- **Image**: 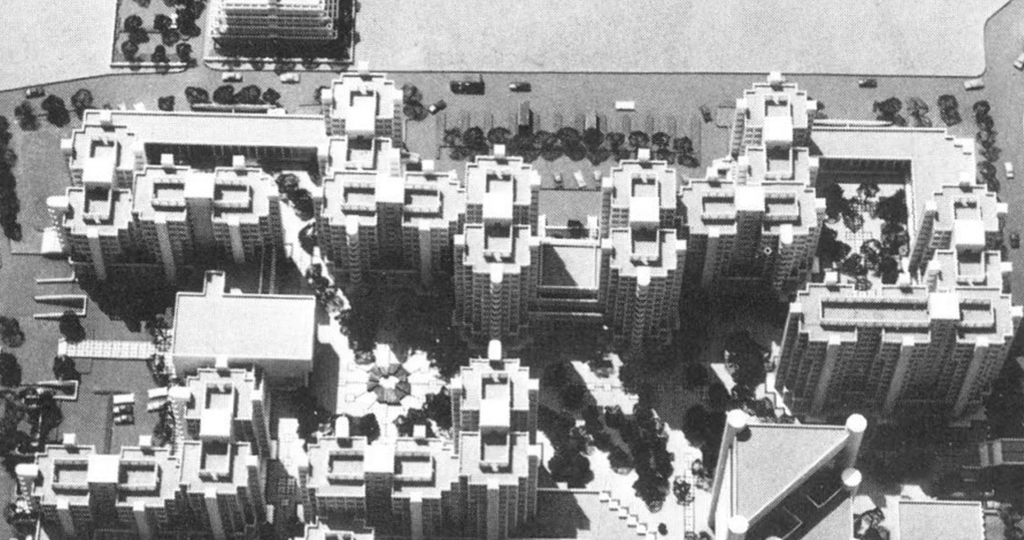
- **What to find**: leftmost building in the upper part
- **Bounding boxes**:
[49,115,148,282]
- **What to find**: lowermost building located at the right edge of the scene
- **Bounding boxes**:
[896,502,987,540]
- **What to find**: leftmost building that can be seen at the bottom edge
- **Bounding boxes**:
[16,434,186,540]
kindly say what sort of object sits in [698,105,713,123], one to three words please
car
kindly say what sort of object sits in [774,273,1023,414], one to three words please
building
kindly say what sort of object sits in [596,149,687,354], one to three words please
building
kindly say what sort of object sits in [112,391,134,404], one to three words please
vehicle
